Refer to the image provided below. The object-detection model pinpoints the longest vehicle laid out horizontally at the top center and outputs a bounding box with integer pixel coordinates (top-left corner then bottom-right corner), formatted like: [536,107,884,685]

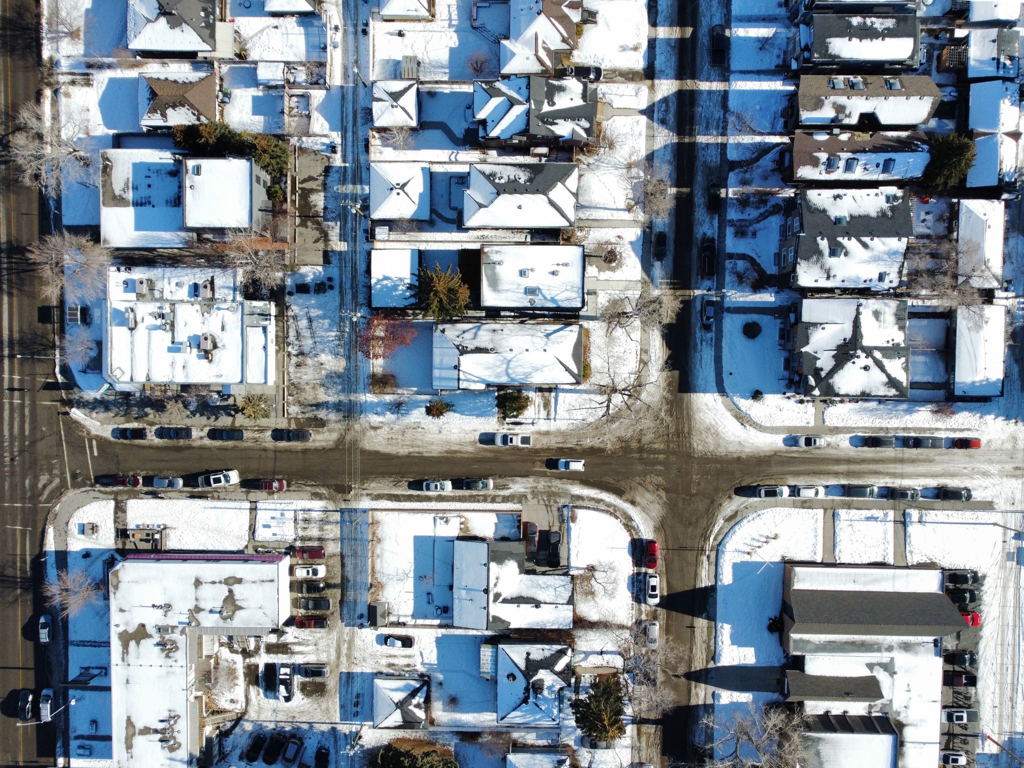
[565,65,603,83]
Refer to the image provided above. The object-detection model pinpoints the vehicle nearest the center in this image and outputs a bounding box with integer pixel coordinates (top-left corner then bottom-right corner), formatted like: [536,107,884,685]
[494,432,533,448]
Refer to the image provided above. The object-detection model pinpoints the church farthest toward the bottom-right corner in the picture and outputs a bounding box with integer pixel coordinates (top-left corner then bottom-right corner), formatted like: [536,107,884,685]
[779,561,969,768]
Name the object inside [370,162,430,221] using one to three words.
building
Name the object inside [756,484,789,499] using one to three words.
car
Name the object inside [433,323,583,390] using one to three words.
house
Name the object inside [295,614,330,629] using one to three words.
vehicle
